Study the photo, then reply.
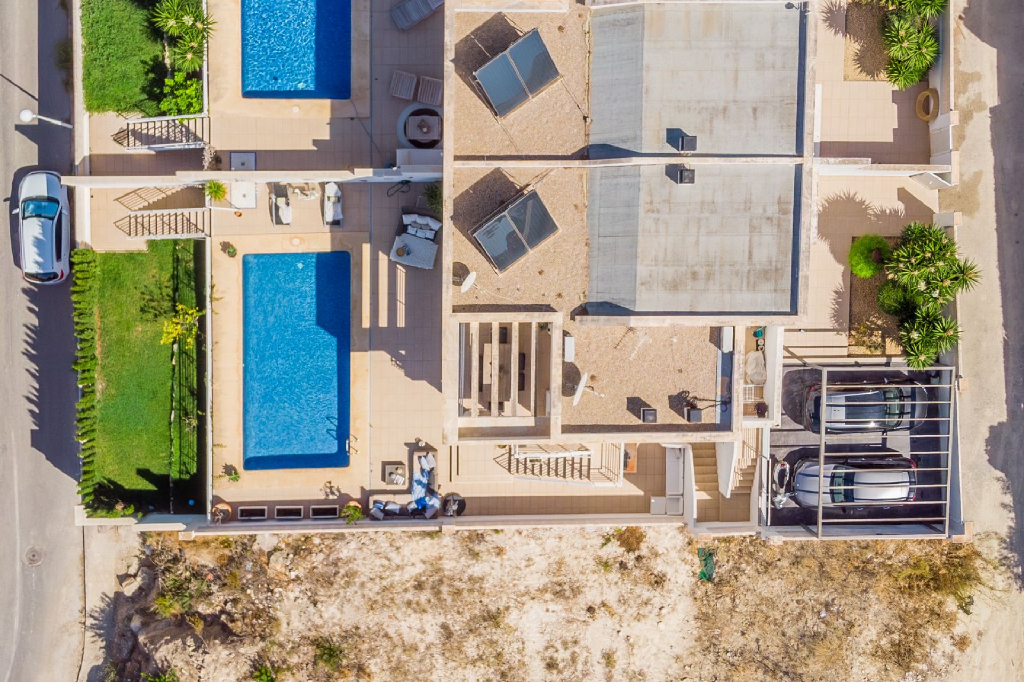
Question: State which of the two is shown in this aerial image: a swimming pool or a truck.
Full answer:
Looking from above, you can make out a swimming pool.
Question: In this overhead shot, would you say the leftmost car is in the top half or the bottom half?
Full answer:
The leftmost car is in the top half of the image.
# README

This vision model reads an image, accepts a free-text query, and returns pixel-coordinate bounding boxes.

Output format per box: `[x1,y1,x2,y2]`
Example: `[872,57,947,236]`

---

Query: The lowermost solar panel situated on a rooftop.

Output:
[472,186,558,273]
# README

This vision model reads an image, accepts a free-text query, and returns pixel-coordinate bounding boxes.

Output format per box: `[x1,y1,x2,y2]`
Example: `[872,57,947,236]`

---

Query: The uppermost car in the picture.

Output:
[11,172,74,283]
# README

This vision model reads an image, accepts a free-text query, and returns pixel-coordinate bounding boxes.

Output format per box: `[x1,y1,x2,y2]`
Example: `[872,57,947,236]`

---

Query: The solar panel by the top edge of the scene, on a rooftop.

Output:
[472,25,560,119]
